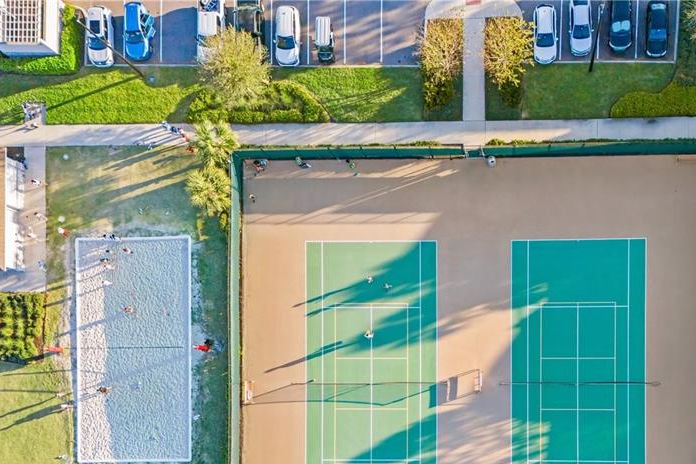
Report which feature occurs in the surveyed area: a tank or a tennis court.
tennis court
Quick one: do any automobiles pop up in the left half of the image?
Yes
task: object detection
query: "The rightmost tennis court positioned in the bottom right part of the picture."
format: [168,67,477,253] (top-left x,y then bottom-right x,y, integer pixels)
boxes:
[511,238,646,464]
